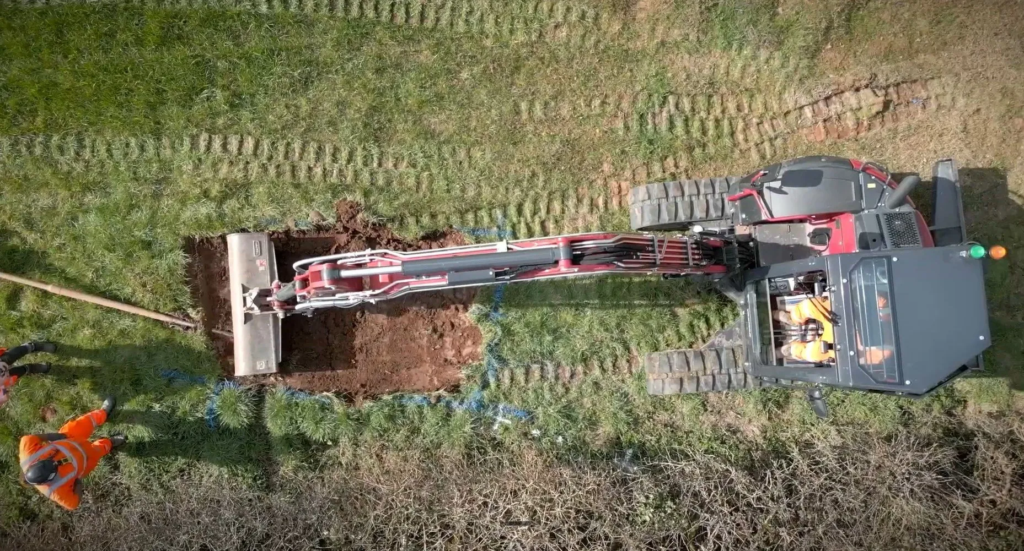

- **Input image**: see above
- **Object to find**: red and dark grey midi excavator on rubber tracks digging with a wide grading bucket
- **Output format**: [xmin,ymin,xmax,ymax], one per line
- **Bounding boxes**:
[227,151,1006,420]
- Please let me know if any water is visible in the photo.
No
